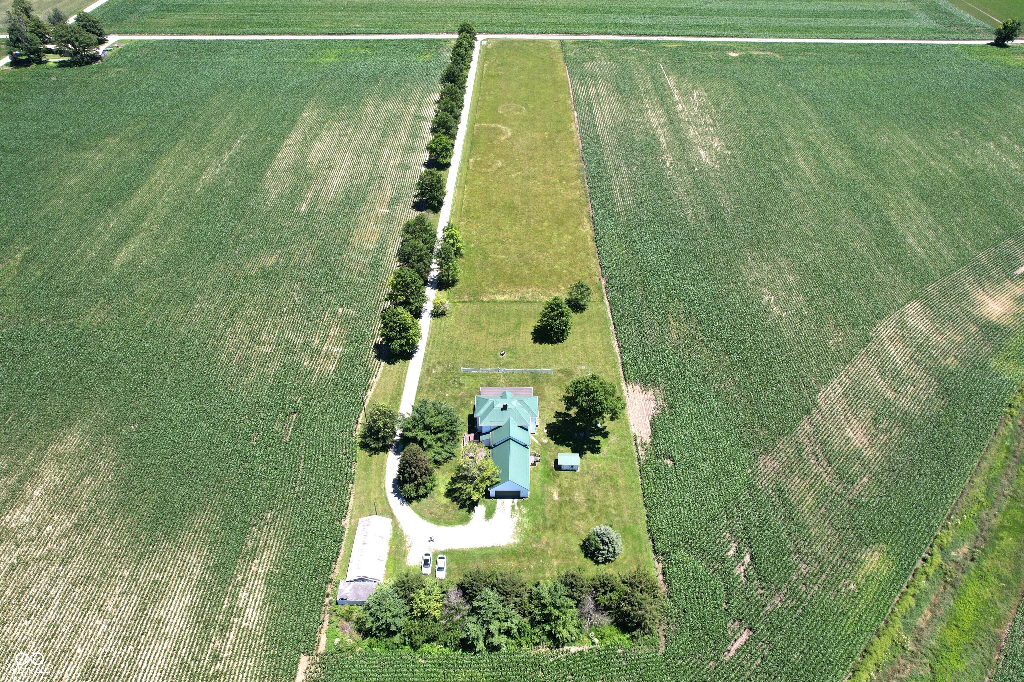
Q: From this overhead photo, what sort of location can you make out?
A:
farmland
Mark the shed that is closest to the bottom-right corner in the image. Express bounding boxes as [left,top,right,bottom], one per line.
[558,453,580,470]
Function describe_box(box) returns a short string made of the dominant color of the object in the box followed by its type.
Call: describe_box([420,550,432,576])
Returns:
white vehicle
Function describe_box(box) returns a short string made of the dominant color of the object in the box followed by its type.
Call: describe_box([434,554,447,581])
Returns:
white vehicle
